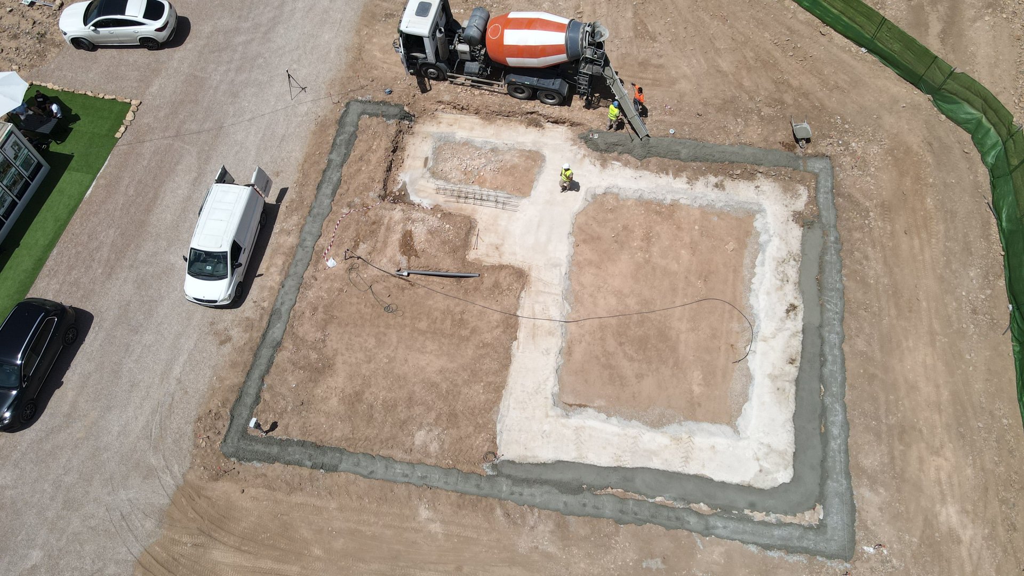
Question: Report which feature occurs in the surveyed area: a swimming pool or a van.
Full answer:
I can see a van in this picture.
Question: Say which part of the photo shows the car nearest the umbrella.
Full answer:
You can find the car nearest the umbrella in the top left area of the picture.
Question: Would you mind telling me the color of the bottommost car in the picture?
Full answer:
The color of the bottommost car is black.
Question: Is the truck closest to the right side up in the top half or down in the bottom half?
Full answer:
You can find the truck closest to the right side in the top half.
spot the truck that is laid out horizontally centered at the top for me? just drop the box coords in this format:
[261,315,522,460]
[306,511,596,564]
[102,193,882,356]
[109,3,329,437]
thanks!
[389,0,650,135]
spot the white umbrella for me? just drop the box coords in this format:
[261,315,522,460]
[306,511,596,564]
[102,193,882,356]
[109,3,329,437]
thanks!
[0,69,28,112]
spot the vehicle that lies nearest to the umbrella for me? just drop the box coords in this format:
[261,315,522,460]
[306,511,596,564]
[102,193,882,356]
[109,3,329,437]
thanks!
[60,0,173,49]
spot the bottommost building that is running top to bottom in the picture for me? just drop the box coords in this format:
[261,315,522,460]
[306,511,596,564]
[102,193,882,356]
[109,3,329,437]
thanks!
[0,123,48,240]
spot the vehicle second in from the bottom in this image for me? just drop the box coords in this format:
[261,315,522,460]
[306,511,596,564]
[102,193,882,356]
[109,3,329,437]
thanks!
[174,164,272,308]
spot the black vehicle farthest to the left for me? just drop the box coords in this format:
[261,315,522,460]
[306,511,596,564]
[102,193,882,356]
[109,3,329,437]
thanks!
[0,303,73,437]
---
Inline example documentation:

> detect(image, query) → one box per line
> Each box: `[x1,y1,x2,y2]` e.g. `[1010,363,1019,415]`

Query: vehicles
[174,164,272,308]
[389,0,650,135]
[60,0,173,49]
[0,303,73,437]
